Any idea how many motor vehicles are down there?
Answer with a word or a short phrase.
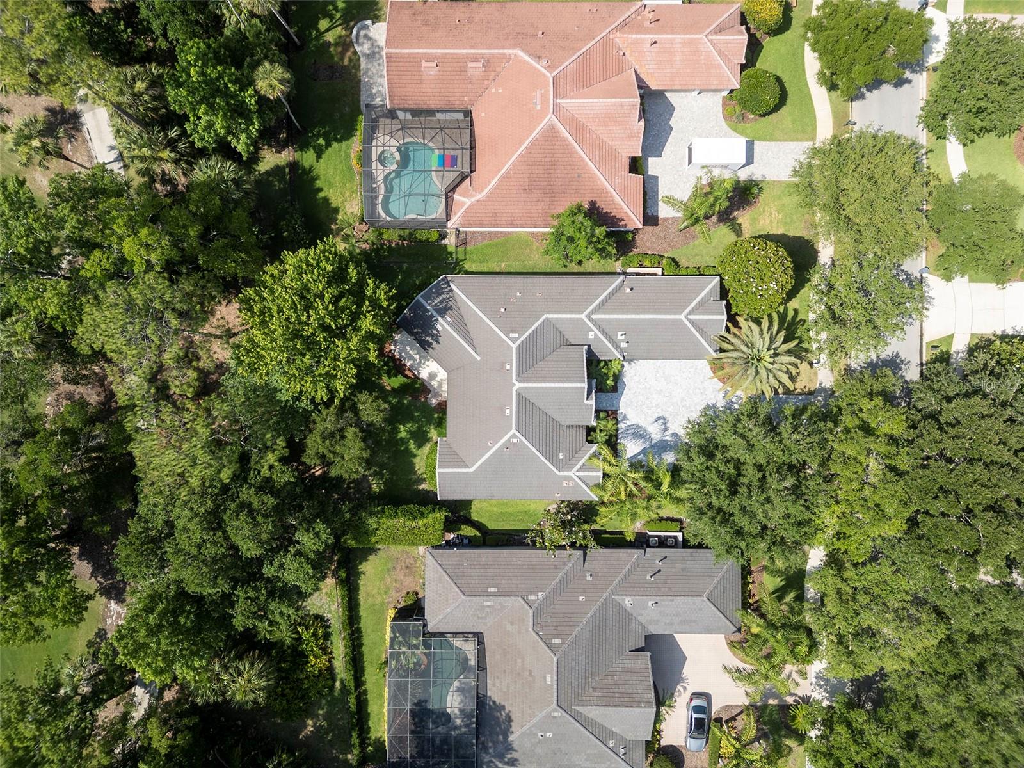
2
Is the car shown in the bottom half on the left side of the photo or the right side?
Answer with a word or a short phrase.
right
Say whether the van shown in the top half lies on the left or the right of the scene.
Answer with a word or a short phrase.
right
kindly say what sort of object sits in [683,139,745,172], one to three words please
van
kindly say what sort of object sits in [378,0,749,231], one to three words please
house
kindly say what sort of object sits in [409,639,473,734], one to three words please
swimming pool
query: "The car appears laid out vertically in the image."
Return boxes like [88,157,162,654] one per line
[685,695,714,755]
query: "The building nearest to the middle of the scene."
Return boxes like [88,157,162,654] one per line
[395,274,727,502]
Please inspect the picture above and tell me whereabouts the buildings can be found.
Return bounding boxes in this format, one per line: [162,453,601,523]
[378,0,749,231]
[395,274,727,502]
[425,546,741,768]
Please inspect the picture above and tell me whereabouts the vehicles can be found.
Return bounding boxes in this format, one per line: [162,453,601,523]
[685,695,714,755]
[683,139,745,172]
